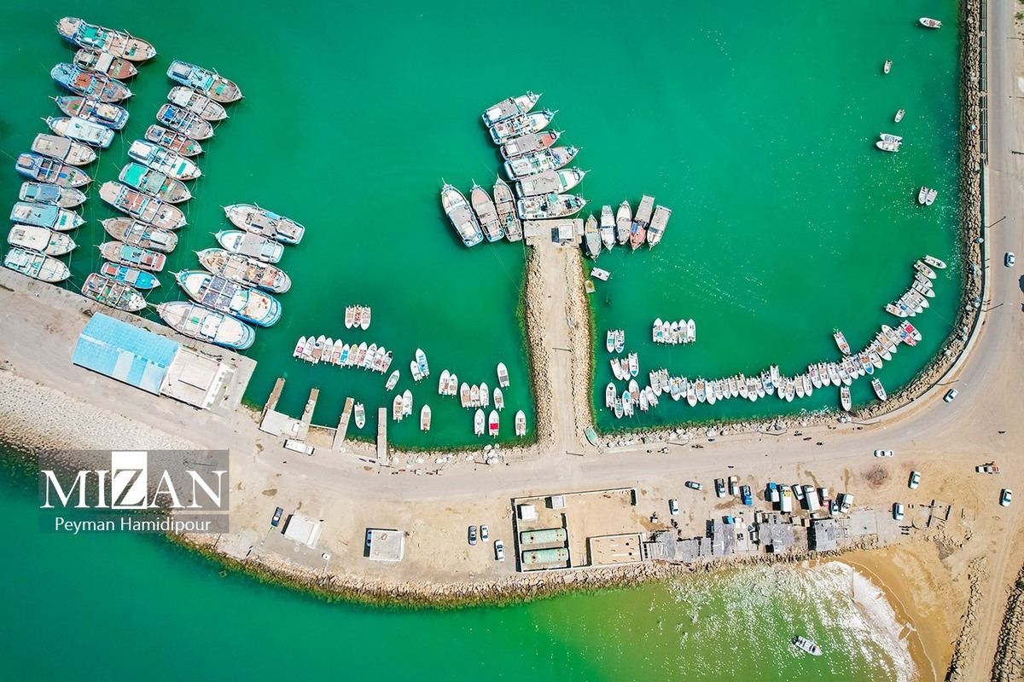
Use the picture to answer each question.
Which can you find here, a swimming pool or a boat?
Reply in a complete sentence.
Visible in the photo is a boat.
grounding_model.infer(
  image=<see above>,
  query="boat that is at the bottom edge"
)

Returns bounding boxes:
[794,637,822,655]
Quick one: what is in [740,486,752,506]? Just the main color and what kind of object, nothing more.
blue vehicle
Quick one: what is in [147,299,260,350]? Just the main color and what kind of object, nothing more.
white boat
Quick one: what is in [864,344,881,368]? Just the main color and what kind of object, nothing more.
white boat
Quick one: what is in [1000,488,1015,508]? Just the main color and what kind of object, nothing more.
white car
